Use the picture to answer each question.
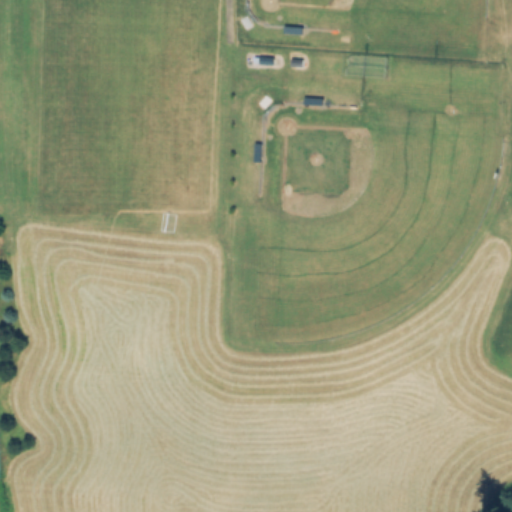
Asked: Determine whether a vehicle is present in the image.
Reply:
No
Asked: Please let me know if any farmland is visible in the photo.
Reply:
Yes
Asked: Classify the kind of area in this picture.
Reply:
sports ground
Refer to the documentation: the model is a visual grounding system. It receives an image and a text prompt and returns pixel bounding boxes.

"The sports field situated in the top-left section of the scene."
[40,0,222,214]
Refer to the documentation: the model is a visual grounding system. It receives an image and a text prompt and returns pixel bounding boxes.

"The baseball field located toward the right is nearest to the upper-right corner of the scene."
[258,0,498,57]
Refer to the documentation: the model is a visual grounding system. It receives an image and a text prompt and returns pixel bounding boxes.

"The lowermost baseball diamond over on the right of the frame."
[241,100,503,343]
